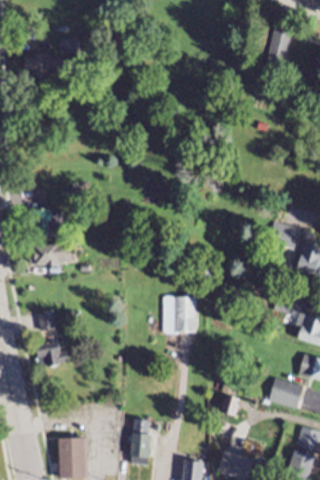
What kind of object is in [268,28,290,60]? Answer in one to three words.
house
